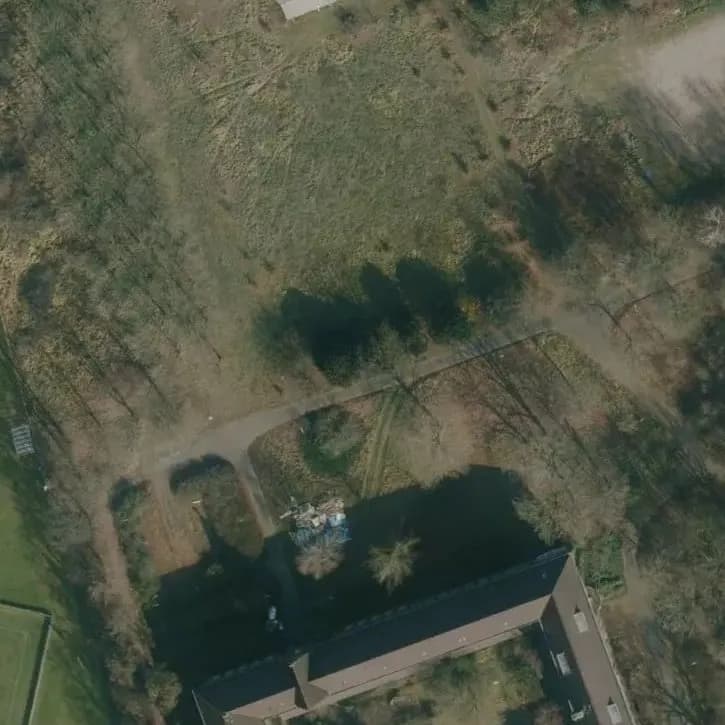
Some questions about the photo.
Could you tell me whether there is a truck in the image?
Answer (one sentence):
No, I can see no truck in this picture.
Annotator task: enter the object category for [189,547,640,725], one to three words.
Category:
building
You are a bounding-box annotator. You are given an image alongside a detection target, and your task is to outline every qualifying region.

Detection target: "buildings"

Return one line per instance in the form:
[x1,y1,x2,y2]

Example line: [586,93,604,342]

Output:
[278,0,331,20]
[189,547,640,725]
